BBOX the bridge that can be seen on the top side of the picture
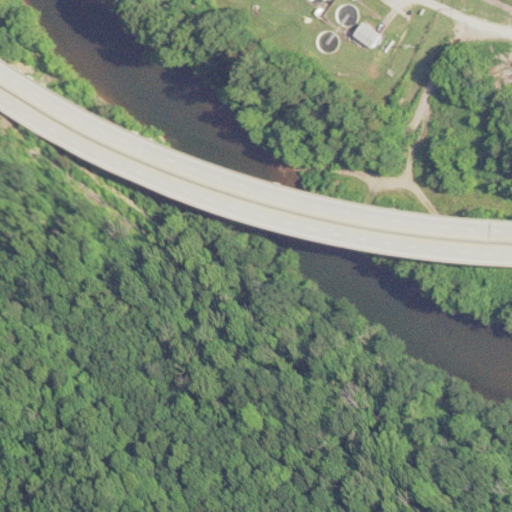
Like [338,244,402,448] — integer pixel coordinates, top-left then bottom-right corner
[0,58,512,268]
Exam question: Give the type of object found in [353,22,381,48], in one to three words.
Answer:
building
